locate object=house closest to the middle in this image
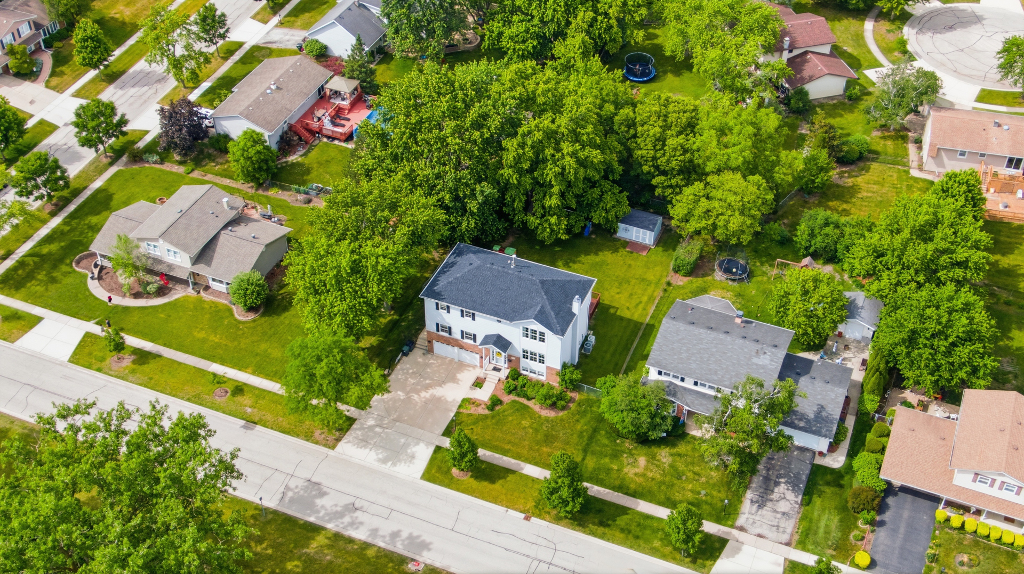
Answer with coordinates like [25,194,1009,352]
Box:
[417,241,606,390]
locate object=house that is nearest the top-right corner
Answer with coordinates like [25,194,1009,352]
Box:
[921,105,1024,219]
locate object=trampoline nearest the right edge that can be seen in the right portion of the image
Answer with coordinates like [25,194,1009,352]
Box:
[714,246,750,288]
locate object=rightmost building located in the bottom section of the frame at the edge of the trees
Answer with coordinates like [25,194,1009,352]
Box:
[879,389,1024,535]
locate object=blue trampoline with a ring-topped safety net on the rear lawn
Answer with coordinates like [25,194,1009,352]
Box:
[624,51,655,80]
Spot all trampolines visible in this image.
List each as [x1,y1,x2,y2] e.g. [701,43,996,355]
[624,51,655,80]
[714,246,750,288]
